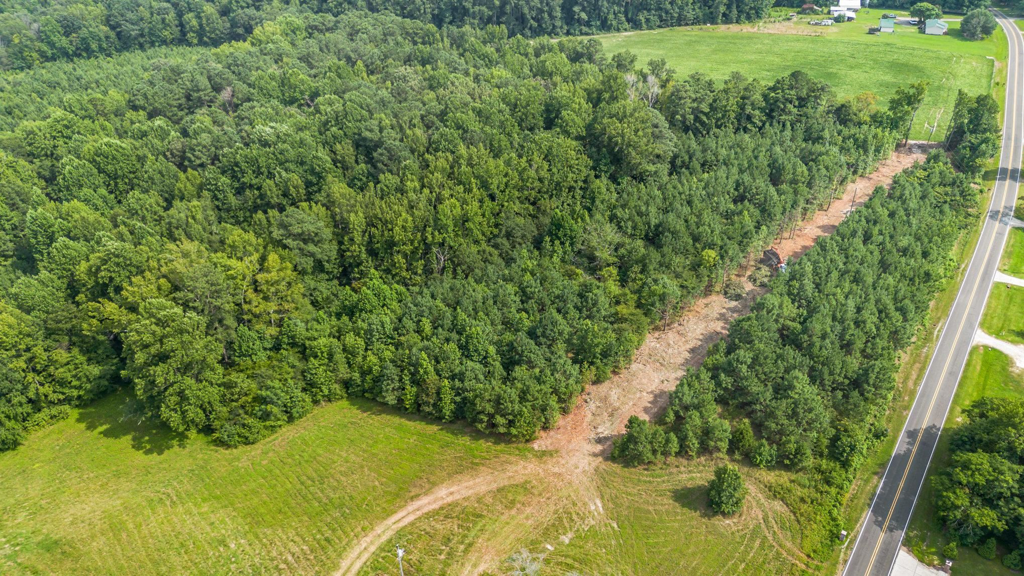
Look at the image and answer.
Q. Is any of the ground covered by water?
No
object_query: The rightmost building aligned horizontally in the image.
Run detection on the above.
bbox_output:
[916,21,951,35]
